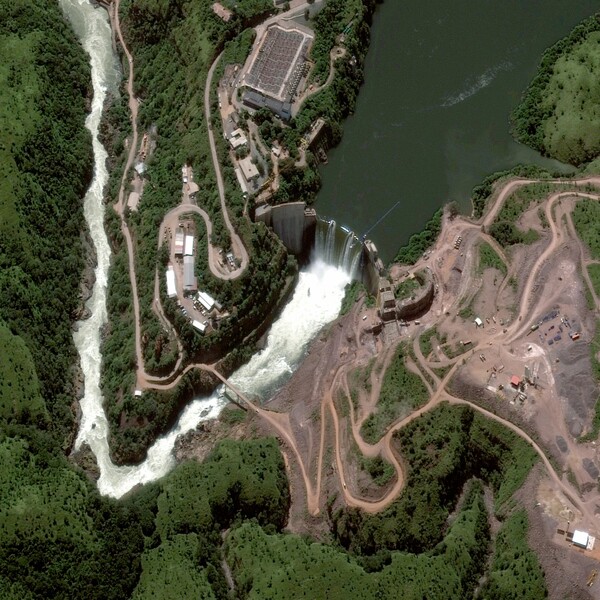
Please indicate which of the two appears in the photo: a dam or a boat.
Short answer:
dam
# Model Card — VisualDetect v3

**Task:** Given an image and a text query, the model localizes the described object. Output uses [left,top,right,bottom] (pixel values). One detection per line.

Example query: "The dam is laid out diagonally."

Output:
[256,200,388,301]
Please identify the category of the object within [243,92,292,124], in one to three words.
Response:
building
